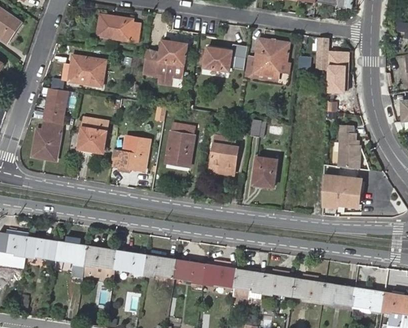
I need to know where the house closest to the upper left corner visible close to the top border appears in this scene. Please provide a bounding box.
[0,6,22,46]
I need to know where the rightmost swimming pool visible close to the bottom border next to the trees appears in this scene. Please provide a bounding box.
[124,292,141,314]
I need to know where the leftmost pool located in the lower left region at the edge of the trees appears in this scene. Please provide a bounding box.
[97,281,111,306]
